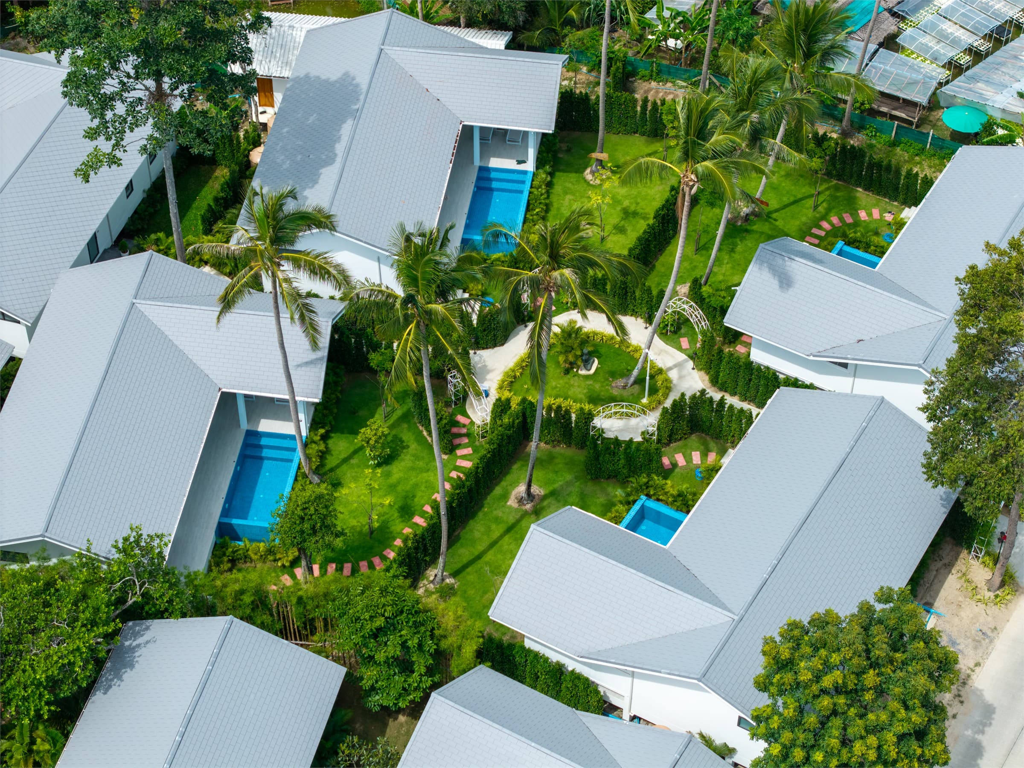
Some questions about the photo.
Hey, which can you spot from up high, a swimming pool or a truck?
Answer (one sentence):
It is a swimming pool that can be seen here.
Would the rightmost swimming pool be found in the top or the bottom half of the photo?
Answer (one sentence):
You can find the rightmost swimming pool in the top half.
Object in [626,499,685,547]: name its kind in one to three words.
swimming pool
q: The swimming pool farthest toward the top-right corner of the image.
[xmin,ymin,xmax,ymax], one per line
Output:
[837,245,880,267]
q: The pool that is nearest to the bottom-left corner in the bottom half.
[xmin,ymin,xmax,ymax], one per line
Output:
[218,437,298,528]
